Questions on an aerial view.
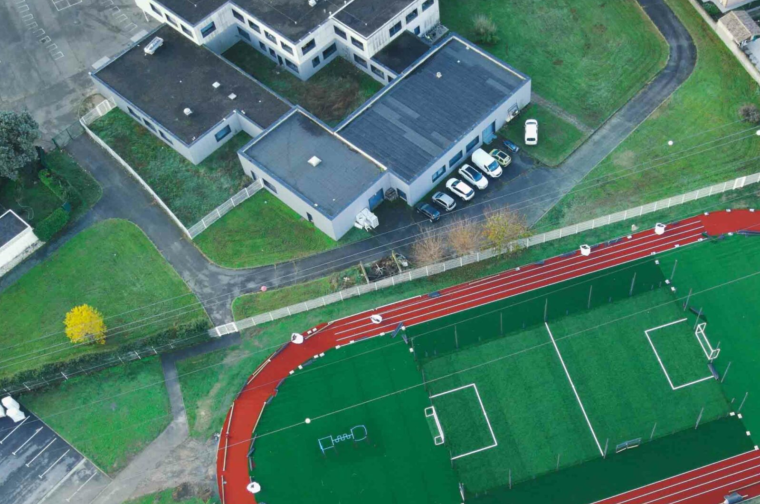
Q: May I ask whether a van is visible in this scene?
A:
Yes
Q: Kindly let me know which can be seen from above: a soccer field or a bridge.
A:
soccer field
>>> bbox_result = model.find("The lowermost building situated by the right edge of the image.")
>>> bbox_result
[718,11,760,55]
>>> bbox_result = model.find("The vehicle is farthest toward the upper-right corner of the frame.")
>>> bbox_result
[522,119,539,145]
